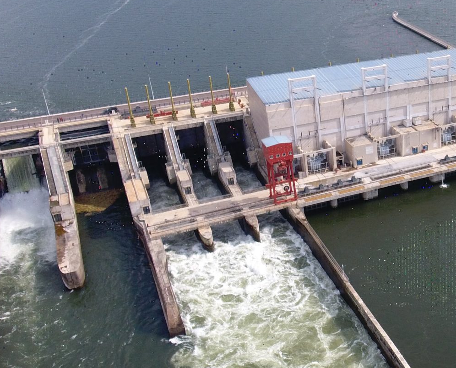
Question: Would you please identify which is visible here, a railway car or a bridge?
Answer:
bridge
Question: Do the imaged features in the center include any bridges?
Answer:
Yes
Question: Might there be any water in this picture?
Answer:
Yes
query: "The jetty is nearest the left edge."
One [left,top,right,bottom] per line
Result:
[40,133,85,289]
